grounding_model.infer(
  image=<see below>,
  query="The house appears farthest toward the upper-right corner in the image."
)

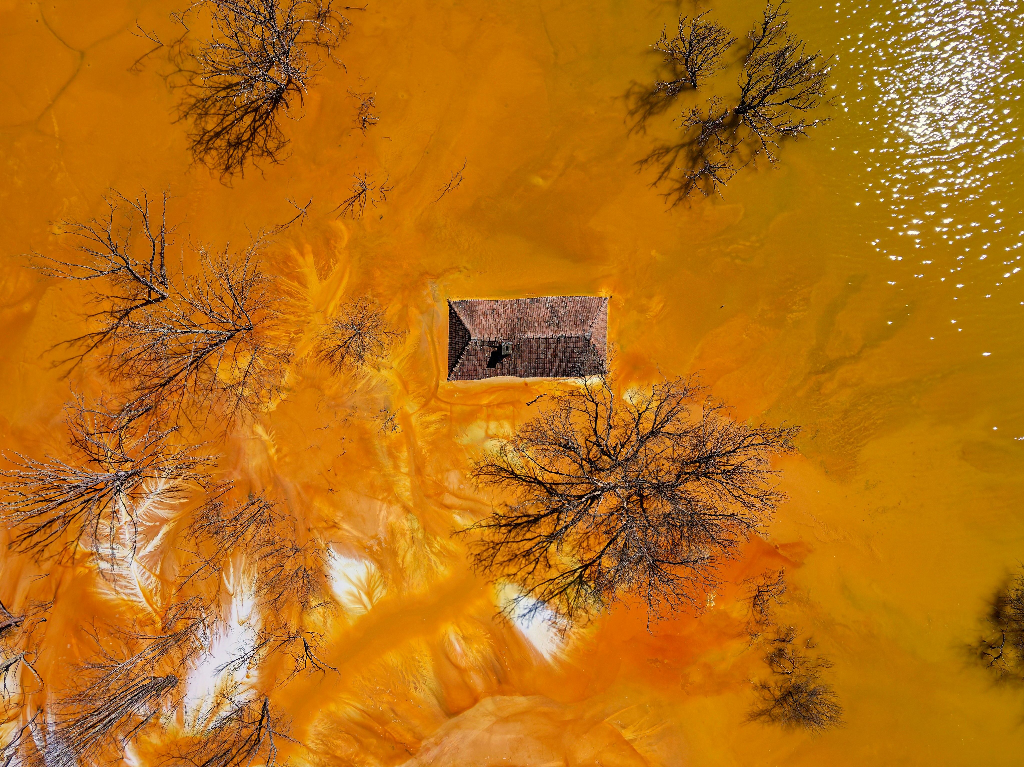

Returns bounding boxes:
[447,295,610,383]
